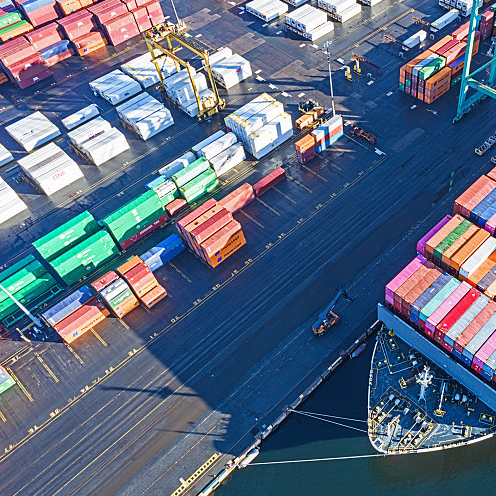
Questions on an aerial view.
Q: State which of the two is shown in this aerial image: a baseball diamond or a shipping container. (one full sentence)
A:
The one in the frame is a shipping container.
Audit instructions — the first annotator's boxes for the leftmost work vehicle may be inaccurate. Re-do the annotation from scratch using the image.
[297,98,312,116]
